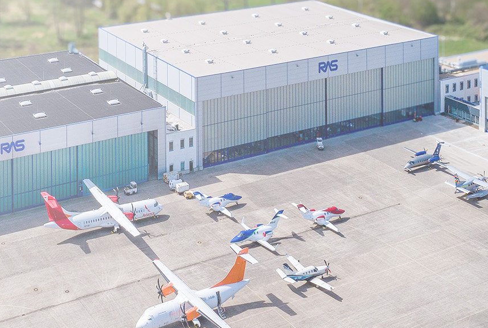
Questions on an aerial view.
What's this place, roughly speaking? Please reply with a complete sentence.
This looks like an airport.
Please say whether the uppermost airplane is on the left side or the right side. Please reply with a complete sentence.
It is on the right.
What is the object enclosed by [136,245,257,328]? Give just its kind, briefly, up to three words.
airplane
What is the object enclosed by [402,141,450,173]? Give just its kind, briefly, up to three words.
airplane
